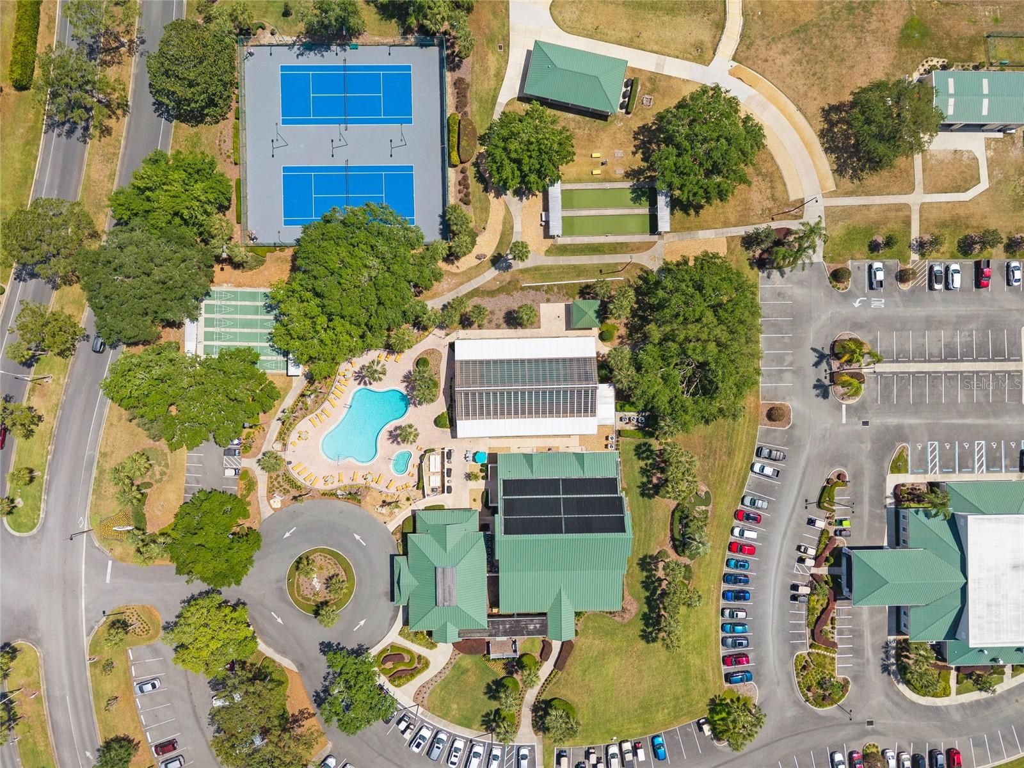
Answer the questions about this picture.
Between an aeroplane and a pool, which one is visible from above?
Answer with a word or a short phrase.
pool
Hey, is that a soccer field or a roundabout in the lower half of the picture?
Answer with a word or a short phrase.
roundabout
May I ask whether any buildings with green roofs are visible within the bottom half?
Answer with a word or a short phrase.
Yes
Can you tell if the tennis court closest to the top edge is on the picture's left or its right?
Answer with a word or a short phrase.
left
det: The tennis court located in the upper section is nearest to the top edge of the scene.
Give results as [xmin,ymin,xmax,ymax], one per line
[279,58,413,128]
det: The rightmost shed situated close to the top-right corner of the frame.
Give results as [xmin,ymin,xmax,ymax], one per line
[910,70,1024,131]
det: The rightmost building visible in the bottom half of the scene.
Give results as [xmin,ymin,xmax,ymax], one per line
[851,480,1024,665]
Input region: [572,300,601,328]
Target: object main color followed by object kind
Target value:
green gazebo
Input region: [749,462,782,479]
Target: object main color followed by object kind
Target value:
white vehicle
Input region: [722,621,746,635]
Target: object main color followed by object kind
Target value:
blue car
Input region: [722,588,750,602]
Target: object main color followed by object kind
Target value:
blue car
